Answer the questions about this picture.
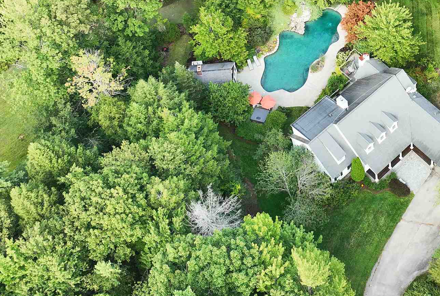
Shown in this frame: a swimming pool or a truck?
swimming pool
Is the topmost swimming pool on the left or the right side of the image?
right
